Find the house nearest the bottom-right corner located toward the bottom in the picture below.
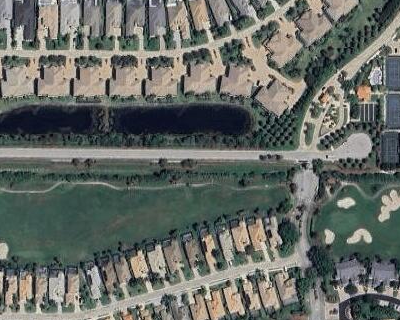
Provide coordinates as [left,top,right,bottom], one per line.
[370,260,397,286]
